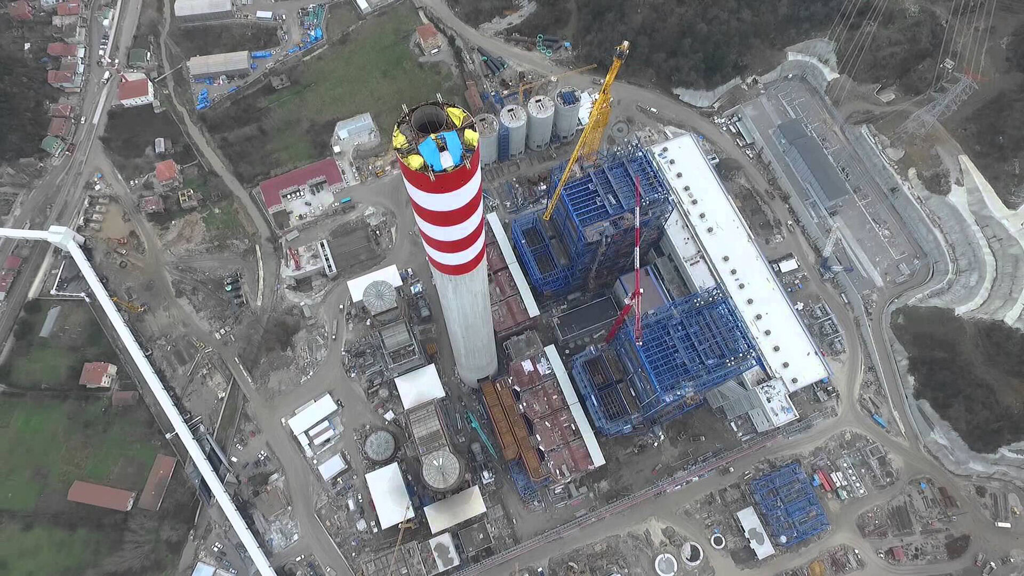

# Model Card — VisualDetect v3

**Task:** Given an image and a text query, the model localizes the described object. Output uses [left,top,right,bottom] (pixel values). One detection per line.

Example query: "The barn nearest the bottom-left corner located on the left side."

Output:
[67,481,140,511]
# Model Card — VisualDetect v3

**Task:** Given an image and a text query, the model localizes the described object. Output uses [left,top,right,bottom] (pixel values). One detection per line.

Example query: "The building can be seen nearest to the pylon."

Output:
[765,118,854,217]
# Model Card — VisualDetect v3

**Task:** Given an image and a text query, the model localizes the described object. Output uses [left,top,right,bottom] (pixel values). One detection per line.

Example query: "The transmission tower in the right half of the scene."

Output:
[896,66,982,137]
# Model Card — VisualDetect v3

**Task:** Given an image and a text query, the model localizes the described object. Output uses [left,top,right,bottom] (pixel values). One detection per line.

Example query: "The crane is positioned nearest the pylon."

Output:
[818,223,861,277]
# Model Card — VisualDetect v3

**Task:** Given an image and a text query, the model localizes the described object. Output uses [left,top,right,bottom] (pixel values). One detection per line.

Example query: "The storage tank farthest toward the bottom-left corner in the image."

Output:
[363,429,399,464]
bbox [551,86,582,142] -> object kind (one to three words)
silo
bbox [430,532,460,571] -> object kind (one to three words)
building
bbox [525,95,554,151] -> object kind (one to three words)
silo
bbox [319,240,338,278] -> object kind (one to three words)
house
